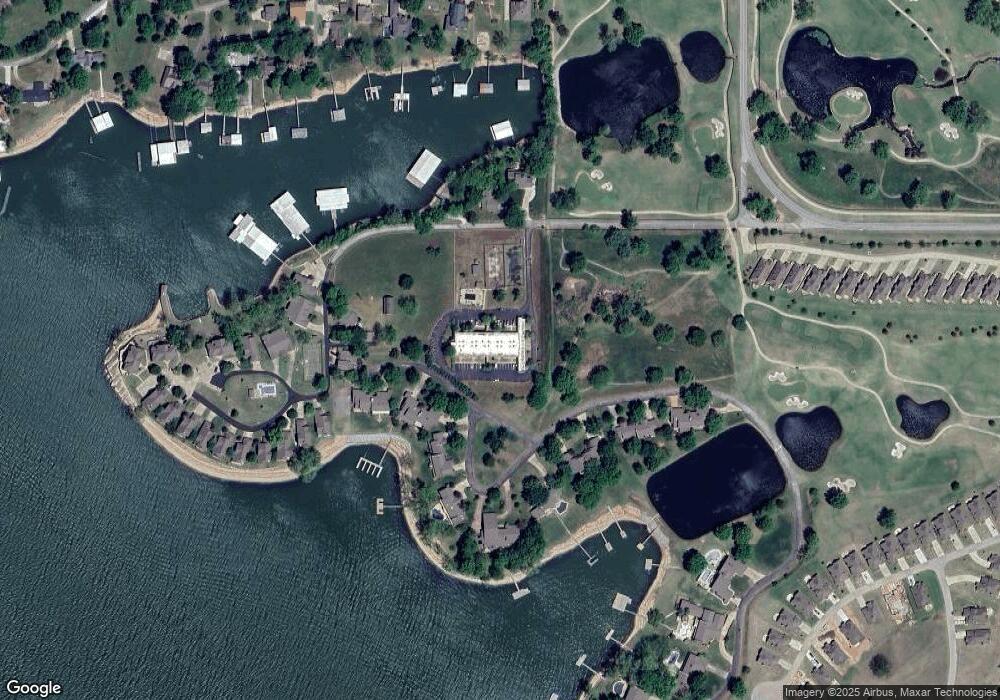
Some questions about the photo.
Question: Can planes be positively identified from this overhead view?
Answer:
No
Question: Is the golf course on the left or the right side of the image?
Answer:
right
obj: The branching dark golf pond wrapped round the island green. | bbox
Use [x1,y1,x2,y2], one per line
[783,27,917,139]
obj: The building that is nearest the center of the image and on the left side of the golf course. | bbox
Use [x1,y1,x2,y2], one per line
[450,317,525,372]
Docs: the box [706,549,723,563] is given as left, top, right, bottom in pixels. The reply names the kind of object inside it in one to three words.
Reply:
swimming pool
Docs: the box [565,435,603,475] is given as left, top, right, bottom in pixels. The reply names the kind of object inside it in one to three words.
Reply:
house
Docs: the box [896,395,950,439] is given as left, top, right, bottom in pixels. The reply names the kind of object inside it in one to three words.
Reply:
pond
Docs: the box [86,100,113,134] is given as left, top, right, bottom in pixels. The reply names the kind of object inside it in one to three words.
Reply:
pier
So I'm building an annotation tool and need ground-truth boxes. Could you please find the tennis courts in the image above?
[304,345,322,381]
[504,245,522,285]
[484,245,503,286]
